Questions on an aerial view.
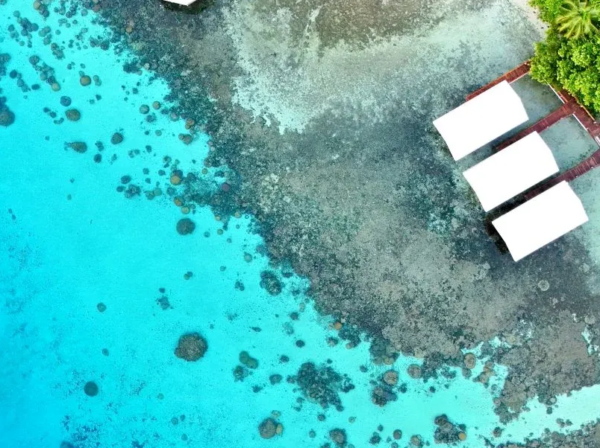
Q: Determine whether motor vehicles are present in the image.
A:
No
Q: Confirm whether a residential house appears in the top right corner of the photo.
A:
Yes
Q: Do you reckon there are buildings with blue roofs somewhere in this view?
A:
No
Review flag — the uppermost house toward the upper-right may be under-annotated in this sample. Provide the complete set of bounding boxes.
[433,80,528,161]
